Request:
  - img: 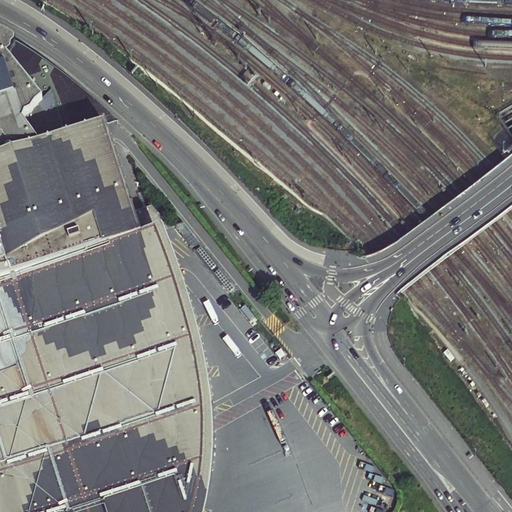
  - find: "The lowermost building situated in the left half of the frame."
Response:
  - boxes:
[0,205,215,512]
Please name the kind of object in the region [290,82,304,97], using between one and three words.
rail car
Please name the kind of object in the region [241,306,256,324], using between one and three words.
vehicle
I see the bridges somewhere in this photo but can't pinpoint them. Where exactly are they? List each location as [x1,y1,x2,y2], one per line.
[365,155,512,294]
